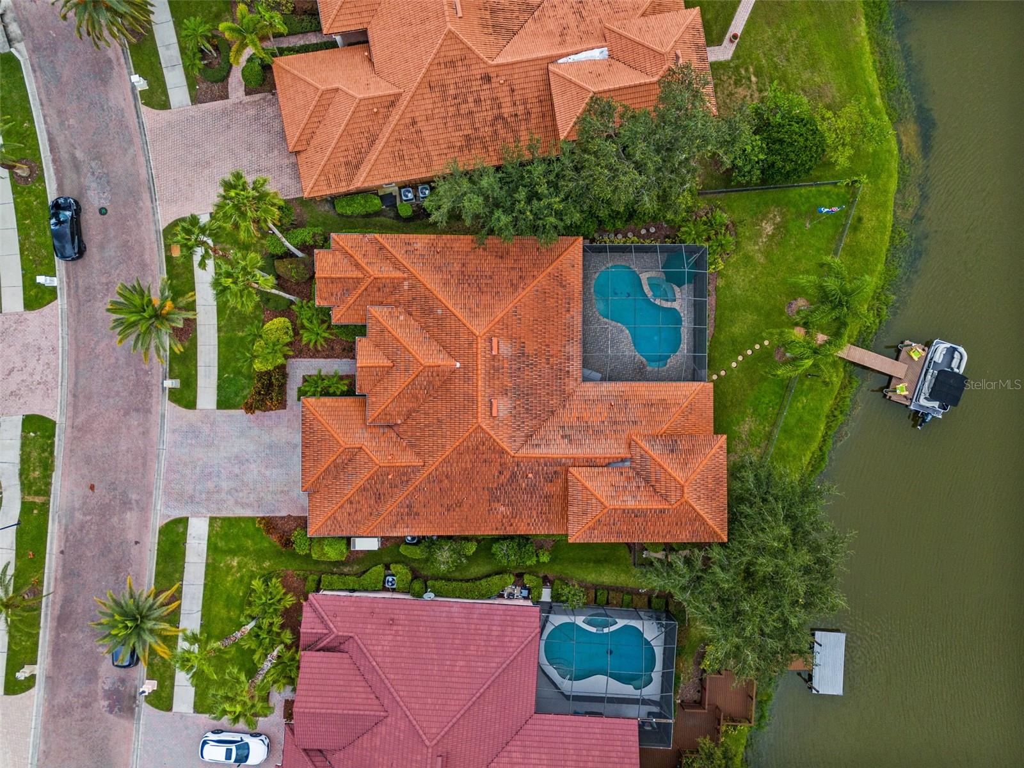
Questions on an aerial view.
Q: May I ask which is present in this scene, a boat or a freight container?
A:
boat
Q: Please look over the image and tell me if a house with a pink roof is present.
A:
Yes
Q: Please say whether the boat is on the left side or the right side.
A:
right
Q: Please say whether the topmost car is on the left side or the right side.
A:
left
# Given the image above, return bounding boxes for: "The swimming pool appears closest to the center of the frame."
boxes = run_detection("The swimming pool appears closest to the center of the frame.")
[591,262,684,370]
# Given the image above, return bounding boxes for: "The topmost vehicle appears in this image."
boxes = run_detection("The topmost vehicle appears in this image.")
[43,194,84,259]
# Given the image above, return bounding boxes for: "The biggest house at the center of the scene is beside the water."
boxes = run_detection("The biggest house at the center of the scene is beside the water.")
[301,234,728,543]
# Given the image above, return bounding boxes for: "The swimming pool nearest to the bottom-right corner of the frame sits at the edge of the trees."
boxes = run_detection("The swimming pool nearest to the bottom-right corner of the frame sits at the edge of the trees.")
[541,617,659,693]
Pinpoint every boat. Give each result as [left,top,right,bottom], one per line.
[911,337,970,427]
